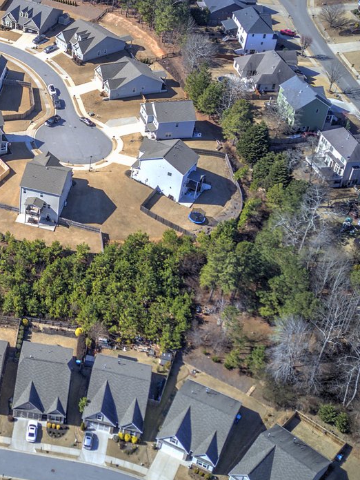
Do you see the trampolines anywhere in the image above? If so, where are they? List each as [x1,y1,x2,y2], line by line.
[189,207,209,225]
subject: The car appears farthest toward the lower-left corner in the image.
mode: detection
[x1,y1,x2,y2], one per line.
[24,419,40,444]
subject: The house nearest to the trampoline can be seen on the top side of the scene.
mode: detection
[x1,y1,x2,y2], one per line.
[126,135,212,202]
